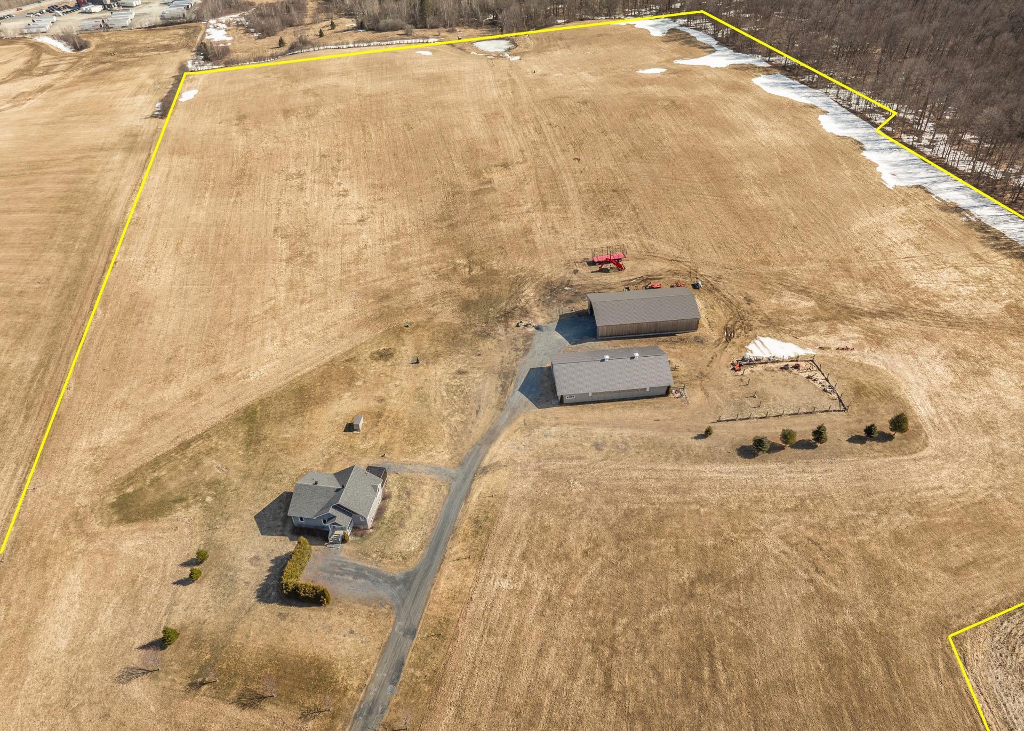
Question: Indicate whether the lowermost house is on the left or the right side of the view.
left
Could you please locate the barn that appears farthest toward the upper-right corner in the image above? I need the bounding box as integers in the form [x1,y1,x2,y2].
[587,288,702,339]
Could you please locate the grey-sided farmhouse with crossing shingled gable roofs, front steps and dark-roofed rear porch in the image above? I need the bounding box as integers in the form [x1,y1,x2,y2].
[287,466,388,553]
